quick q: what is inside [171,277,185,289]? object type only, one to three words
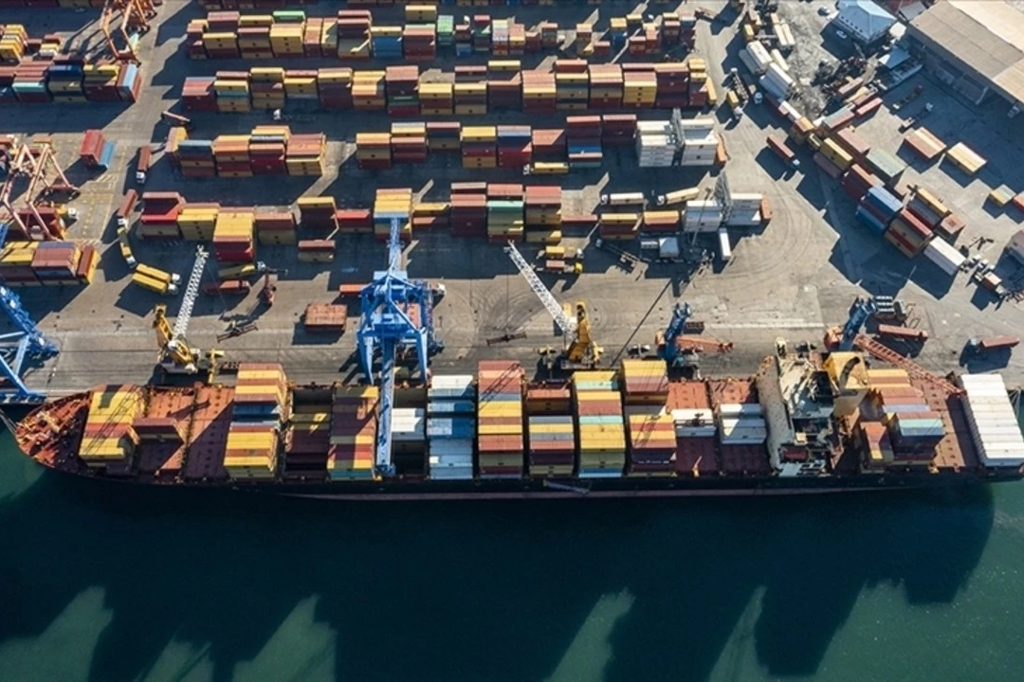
vehicle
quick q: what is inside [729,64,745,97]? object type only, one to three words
vehicle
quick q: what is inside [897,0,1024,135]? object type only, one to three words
warehouse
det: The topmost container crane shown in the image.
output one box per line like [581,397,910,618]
[92,0,155,62]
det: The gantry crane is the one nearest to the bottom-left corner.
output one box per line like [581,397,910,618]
[0,295,62,389]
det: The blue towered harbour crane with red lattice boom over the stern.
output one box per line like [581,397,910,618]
[800,297,969,390]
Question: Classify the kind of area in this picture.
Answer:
port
